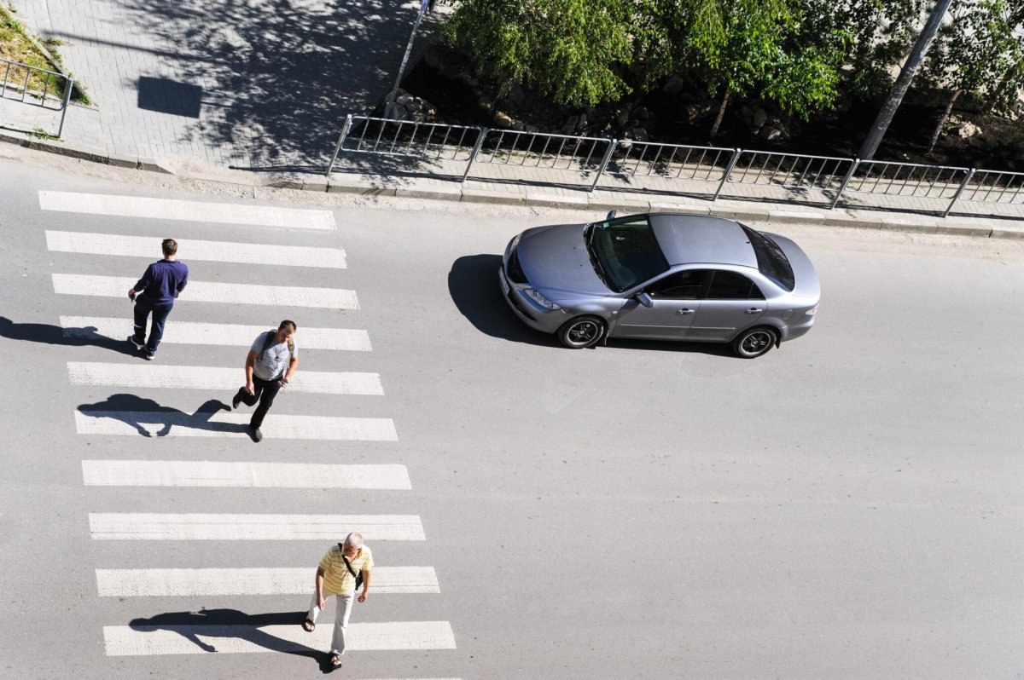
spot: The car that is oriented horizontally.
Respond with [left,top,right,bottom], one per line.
[493,205,822,359]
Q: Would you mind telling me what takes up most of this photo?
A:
paved ground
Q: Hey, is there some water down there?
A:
No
